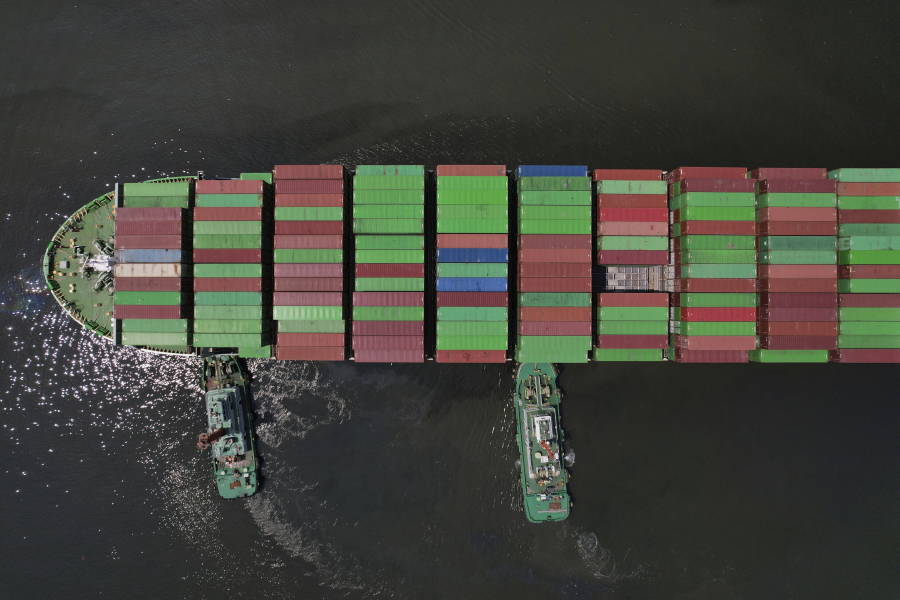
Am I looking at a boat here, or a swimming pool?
boat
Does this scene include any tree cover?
No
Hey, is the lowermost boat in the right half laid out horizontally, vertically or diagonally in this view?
vertically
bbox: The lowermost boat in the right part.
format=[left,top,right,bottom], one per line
[510,362,574,524]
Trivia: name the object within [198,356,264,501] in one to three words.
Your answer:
boat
